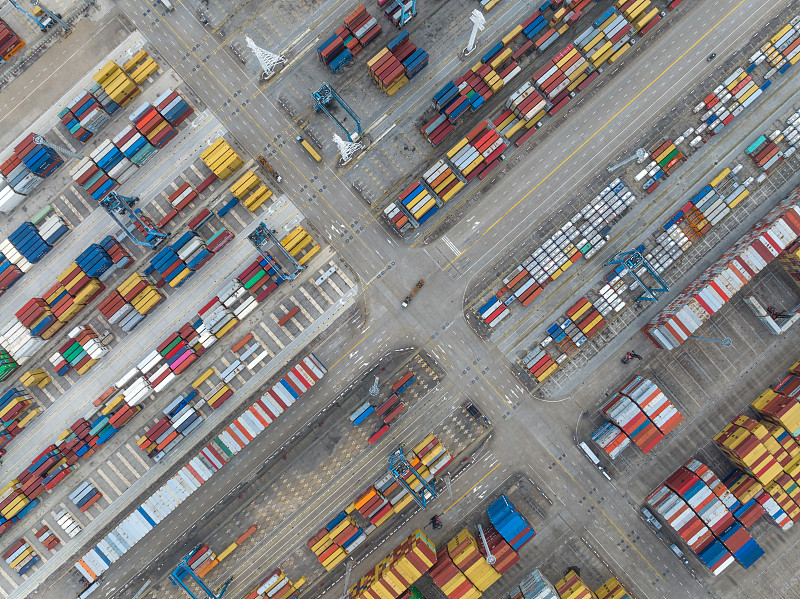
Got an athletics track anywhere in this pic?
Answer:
No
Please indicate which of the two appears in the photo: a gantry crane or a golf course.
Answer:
gantry crane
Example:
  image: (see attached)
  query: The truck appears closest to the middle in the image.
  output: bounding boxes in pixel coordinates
[401,283,425,309]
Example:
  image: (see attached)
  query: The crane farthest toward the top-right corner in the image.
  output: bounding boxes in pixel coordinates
[602,248,676,307]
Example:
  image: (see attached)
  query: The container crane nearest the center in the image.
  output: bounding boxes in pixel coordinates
[248,223,311,282]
